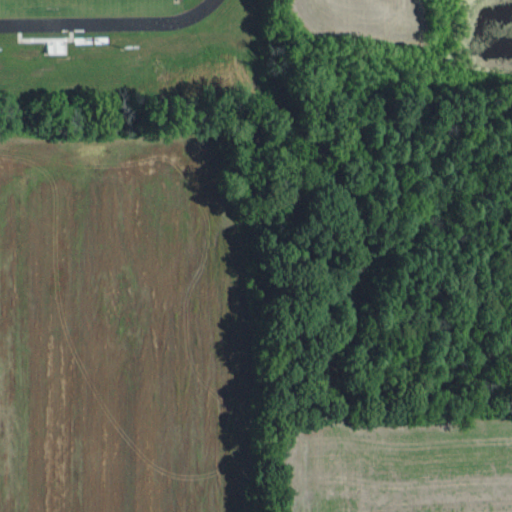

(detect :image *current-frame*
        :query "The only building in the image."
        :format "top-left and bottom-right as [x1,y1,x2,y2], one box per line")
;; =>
[47,40,68,58]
